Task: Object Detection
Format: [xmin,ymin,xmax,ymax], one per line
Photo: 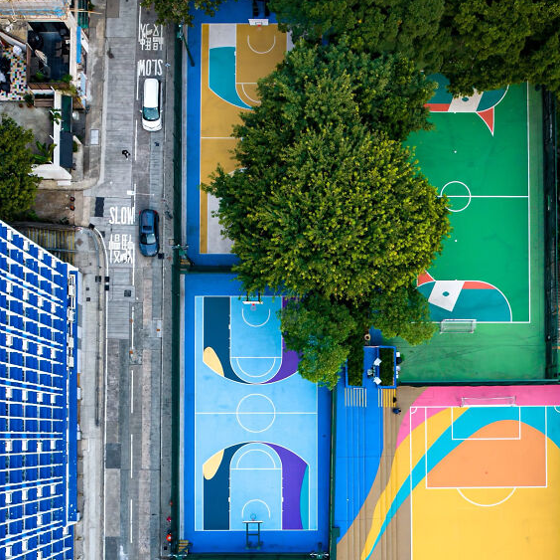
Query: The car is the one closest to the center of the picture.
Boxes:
[136,209,159,259]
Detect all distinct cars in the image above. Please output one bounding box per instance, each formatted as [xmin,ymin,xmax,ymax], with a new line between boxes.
[136,209,159,259]
[138,75,161,130]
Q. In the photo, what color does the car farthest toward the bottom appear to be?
blue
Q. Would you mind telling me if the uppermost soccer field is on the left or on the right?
right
